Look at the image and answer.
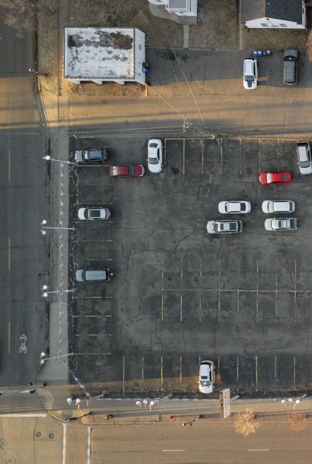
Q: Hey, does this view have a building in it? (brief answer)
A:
Yes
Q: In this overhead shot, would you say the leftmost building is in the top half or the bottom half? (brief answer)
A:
top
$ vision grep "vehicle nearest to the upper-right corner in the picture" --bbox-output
[282,51,299,84]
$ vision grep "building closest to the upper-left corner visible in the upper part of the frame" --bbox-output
[64,27,145,83]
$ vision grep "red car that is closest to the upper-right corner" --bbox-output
[260,170,292,185]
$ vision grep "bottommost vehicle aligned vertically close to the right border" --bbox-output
[297,142,312,174]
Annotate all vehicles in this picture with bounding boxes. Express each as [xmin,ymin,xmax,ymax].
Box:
[80,206,112,221]
[220,200,252,215]
[242,58,259,90]
[260,170,292,185]
[149,140,164,173]
[209,219,245,235]
[198,360,216,391]
[111,163,147,179]
[266,217,298,231]
[264,199,296,214]
[297,142,312,174]
[282,51,299,84]
[78,267,113,283]
[77,148,110,164]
